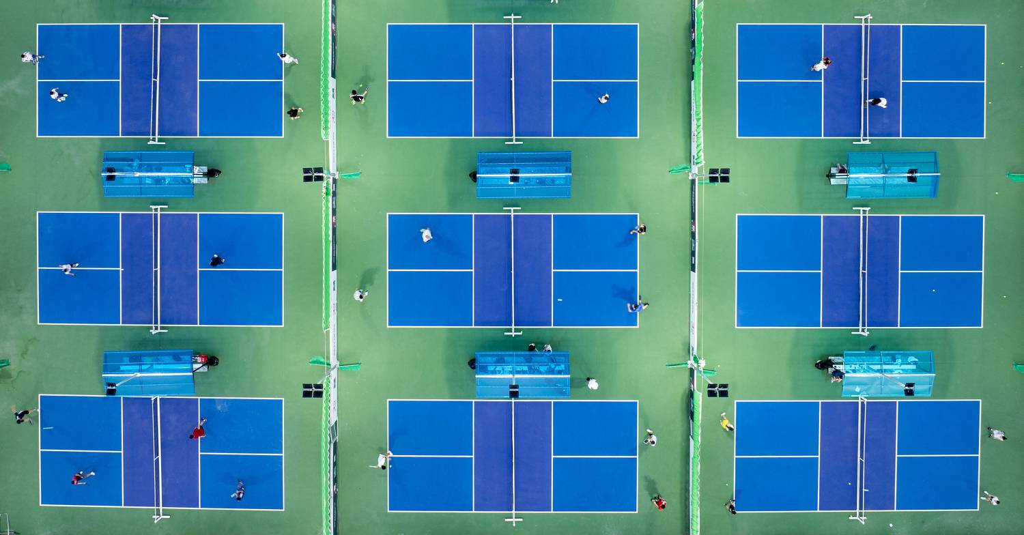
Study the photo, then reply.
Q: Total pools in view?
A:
0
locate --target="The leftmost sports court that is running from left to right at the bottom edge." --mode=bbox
[39,394,284,511]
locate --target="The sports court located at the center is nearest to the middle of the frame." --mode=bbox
[387,214,639,327]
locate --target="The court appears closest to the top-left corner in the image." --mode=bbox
[37,23,284,137]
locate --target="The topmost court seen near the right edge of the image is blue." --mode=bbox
[737,24,987,138]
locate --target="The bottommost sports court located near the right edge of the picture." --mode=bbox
[735,400,981,512]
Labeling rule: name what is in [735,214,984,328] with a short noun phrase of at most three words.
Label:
sports court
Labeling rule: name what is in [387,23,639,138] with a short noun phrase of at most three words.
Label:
sports court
